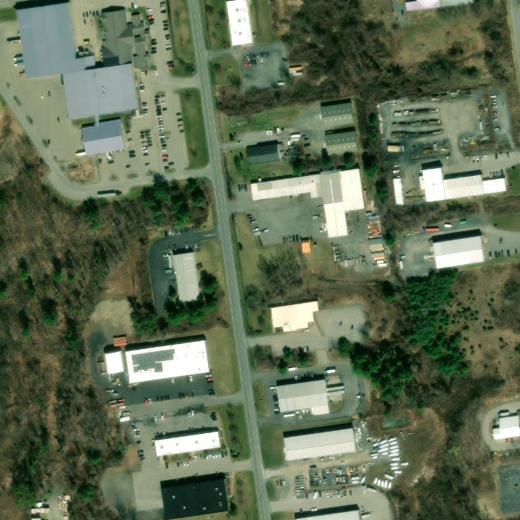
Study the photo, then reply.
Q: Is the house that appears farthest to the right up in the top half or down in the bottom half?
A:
bottom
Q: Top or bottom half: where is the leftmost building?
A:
top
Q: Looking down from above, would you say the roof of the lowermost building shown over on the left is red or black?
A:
black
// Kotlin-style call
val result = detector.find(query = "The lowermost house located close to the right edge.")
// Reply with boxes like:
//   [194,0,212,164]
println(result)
[493,411,520,440]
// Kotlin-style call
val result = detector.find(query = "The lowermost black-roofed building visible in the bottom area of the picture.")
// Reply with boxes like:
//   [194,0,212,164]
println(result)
[161,479,230,520]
